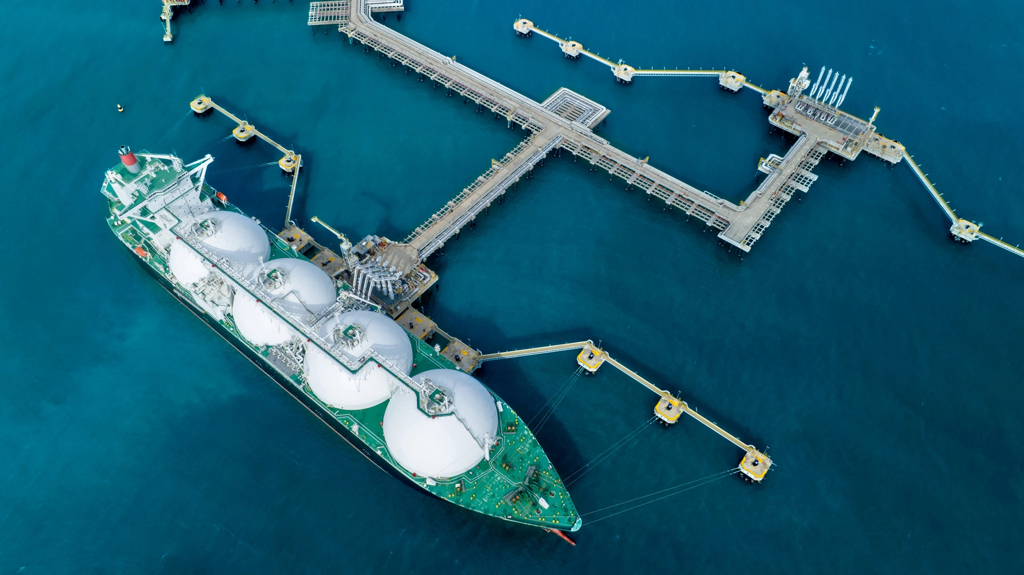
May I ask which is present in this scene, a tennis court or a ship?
ship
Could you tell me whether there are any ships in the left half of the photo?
Yes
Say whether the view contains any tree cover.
No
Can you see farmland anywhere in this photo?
No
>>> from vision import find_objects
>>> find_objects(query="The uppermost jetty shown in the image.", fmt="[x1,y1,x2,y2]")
[307,0,406,32]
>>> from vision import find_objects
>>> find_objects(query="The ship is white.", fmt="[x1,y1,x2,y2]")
[94,139,583,545]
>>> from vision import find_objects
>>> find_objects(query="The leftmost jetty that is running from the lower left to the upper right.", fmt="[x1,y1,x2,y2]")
[400,127,566,268]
